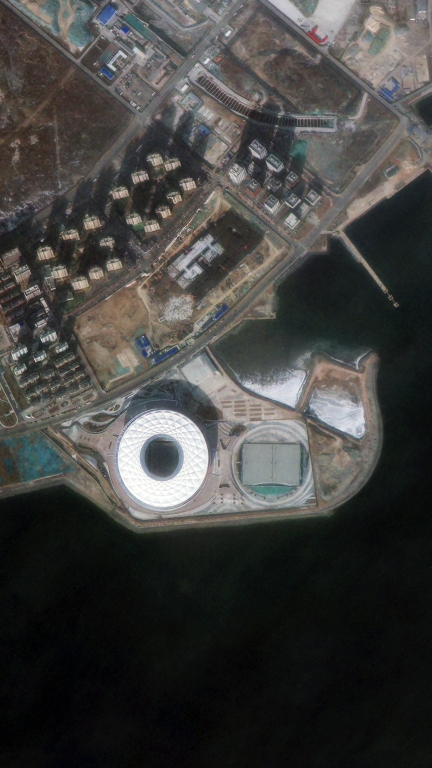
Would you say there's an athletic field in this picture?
Yes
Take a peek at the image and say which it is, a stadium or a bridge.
stadium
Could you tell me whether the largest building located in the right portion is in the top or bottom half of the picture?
top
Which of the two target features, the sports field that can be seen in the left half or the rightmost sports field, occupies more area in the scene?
the rightmost sports field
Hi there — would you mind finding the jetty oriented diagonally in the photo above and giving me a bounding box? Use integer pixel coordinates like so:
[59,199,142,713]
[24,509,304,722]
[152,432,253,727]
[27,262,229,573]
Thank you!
[340,231,386,290]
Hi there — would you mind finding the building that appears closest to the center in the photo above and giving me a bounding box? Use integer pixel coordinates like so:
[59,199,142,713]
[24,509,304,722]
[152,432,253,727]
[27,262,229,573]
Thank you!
[181,354,217,388]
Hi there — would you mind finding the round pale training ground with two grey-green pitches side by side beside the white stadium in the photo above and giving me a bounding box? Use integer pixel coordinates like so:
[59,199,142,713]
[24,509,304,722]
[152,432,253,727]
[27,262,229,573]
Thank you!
[230,420,315,506]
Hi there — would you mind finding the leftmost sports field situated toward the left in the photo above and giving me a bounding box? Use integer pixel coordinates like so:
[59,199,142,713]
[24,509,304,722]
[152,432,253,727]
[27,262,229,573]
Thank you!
[148,443,176,477]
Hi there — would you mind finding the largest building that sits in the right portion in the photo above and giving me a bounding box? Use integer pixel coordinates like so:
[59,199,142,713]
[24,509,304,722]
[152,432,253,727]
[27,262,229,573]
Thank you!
[187,65,337,131]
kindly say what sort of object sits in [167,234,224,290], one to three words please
building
